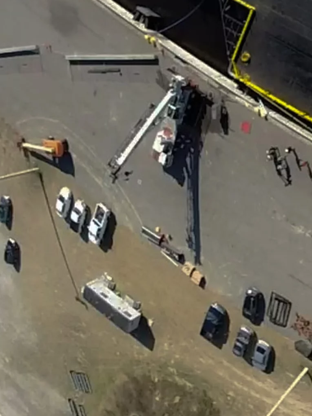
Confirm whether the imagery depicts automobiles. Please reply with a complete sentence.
Yes, the frame does contain an automobile.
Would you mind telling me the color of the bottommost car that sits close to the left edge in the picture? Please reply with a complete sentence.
The color of the bottommost car that sits close to the left edge is black.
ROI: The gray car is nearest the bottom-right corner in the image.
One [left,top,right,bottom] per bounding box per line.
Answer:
[251,336,275,371]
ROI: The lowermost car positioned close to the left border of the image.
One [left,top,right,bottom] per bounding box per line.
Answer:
[2,236,26,266]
